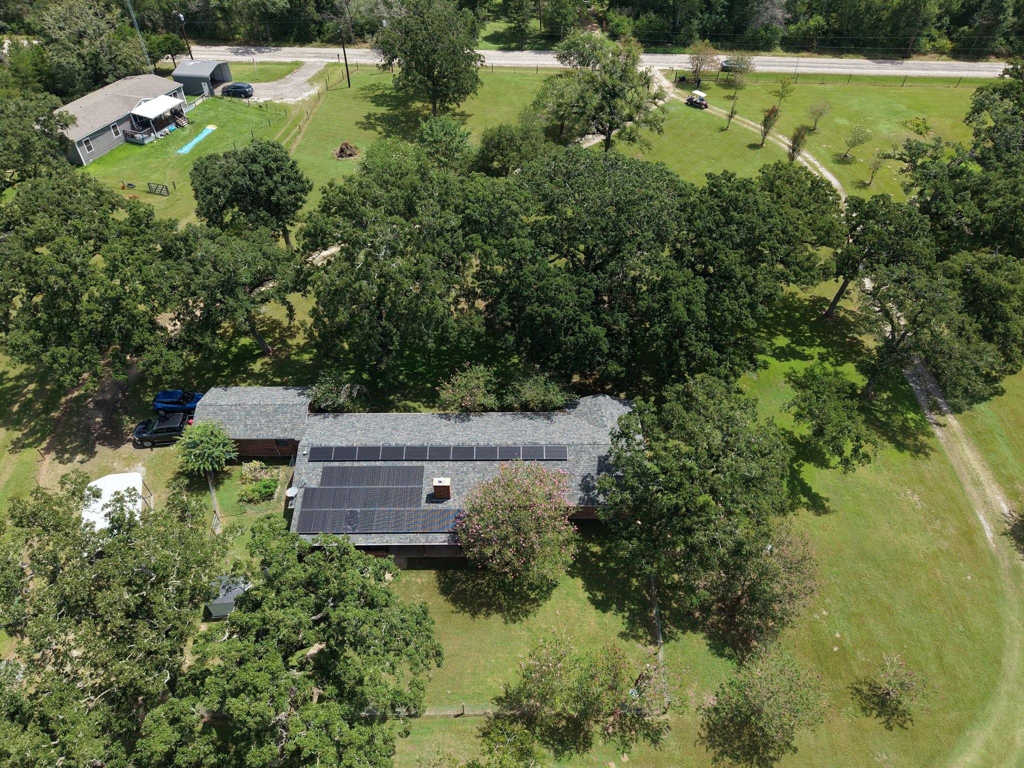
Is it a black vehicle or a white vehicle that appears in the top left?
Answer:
black vehicle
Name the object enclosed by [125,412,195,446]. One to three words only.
truck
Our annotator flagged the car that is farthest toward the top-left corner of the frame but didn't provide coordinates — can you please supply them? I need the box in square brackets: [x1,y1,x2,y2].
[218,82,252,98]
